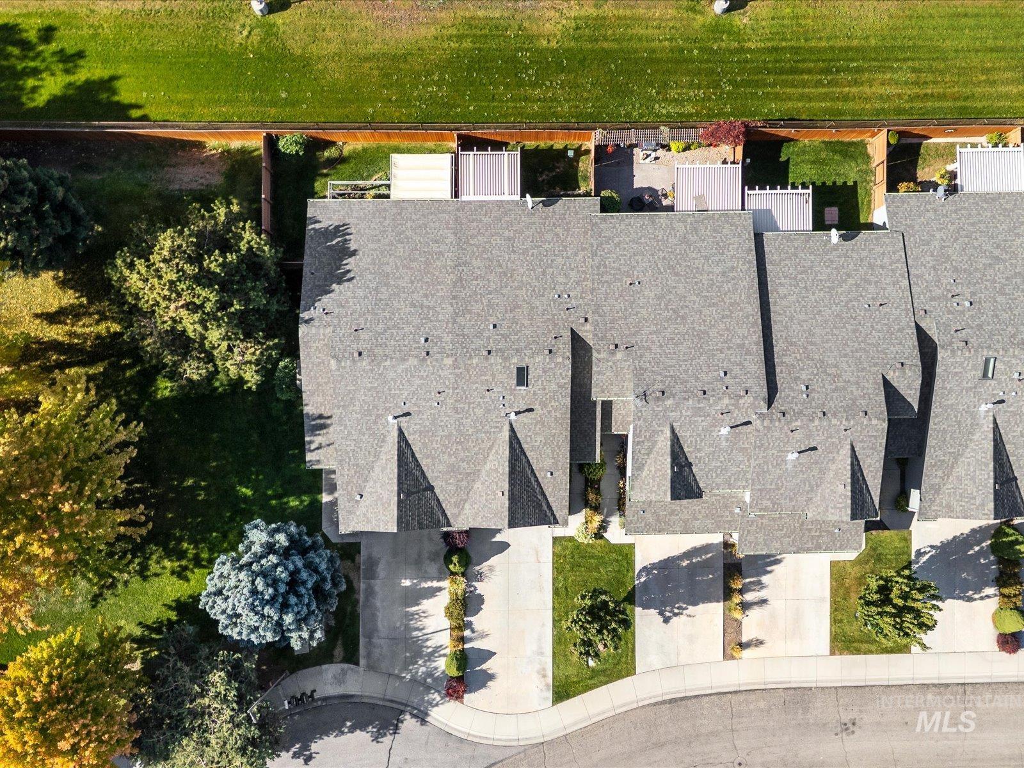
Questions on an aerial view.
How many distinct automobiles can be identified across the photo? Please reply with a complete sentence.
No automobiles are visible.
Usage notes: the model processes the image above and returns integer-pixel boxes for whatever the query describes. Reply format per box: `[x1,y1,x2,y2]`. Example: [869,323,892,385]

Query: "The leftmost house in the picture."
[298,197,602,538]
